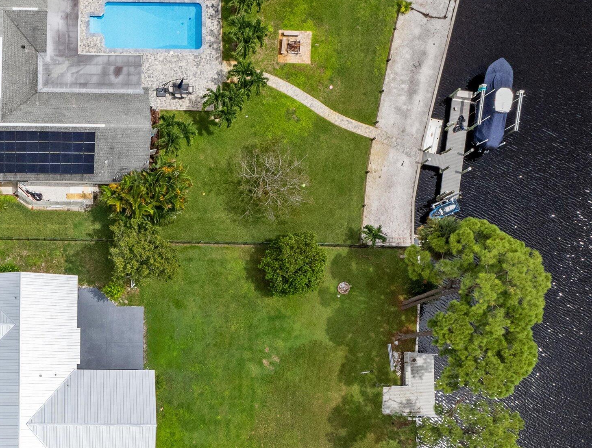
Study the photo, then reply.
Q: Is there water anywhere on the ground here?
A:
Yes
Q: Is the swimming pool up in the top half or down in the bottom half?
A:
top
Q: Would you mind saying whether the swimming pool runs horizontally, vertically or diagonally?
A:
horizontally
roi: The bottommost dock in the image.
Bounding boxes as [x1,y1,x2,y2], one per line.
[382,351,445,417]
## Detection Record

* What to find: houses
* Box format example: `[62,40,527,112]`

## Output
[0,270,157,448]
[0,0,152,185]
